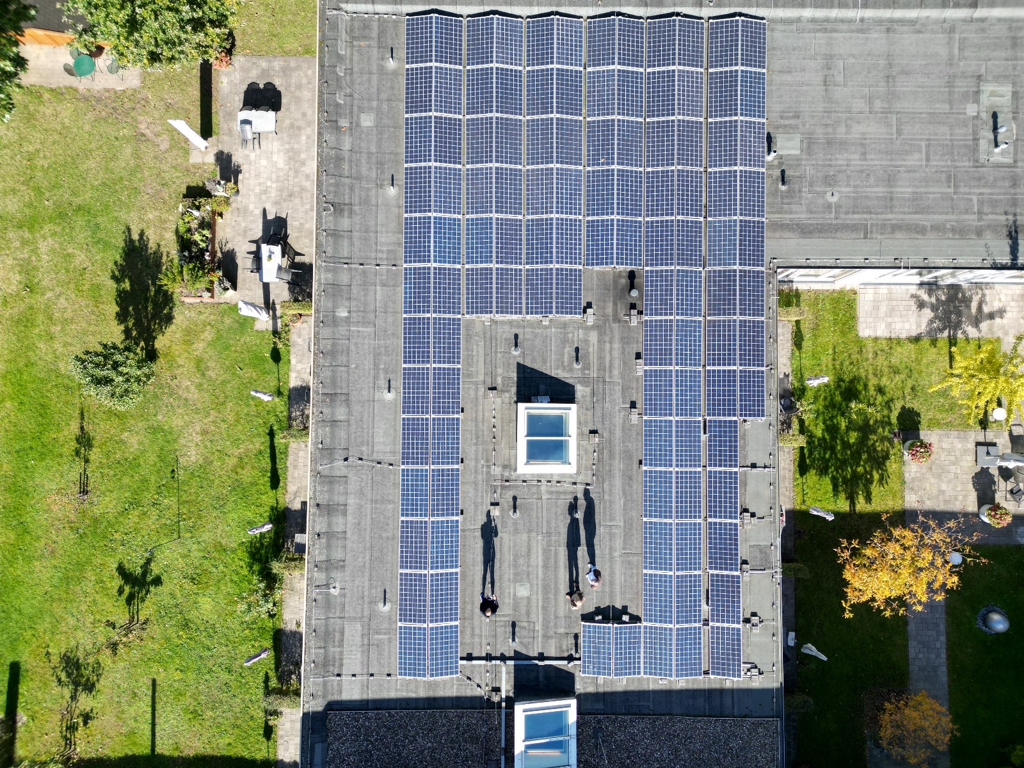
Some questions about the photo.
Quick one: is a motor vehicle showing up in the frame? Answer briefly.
No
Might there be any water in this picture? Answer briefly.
No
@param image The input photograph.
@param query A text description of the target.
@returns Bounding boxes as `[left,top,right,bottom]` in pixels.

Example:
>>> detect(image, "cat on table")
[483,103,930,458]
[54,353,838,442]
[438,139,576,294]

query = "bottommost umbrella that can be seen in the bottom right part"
[789,633,829,660]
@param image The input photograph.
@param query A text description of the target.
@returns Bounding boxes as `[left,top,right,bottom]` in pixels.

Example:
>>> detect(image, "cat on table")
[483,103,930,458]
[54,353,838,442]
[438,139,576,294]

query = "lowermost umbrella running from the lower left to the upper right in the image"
[244,643,277,665]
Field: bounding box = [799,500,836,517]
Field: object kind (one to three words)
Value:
umbrella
